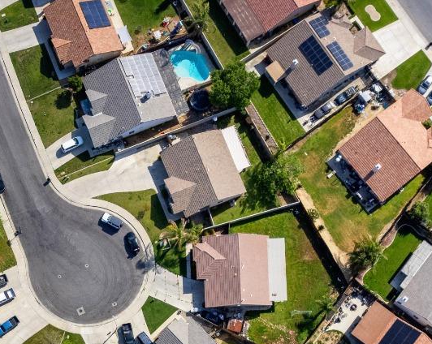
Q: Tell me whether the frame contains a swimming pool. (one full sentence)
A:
Yes, a swimming pool can be made out from above.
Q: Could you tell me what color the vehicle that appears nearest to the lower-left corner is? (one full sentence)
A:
In this view, the vehicle that appears nearest to the lower-left corner is blue.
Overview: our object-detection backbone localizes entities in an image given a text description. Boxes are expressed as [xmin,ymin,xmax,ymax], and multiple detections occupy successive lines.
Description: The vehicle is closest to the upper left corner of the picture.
[58,136,84,151]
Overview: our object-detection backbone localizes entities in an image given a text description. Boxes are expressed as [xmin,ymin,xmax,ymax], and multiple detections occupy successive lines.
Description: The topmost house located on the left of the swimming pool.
[40,0,132,70]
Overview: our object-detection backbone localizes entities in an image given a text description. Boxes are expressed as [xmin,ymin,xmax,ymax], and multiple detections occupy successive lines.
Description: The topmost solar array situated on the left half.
[79,0,111,27]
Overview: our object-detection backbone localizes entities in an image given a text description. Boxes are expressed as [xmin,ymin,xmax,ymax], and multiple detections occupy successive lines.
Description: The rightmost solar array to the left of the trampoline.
[121,55,162,95]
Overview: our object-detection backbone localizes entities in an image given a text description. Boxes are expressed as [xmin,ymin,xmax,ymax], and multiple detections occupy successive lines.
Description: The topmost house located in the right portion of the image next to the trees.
[220,0,315,49]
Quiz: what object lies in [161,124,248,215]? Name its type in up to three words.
house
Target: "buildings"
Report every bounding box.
[40,0,132,70]
[349,302,432,344]
[193,232,287,308]
[220,0,315,49]
[339,87,432,202]
[263,1,386,106]
[82,51,175,146]
[157,314,214,344]
[387,240,432,327]
[161,124,248,215]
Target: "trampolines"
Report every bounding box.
[199,85,219,107]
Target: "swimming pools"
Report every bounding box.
[169,48,211,81]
